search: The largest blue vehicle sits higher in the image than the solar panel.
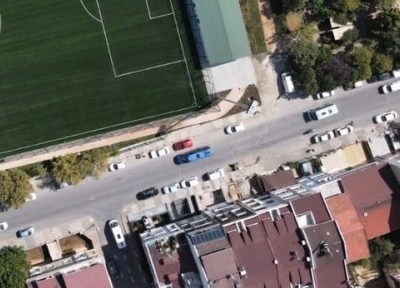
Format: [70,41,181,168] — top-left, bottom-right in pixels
[175,145,218,168]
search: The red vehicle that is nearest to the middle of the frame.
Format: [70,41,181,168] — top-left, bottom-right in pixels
[173,139,193,151]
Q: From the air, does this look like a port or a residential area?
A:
residential area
